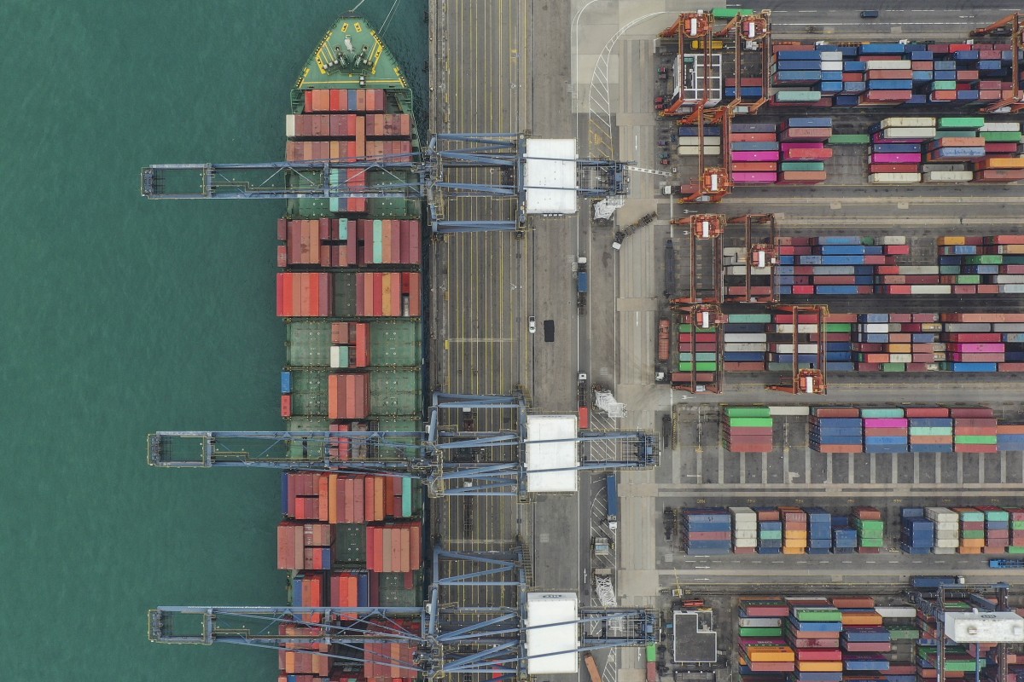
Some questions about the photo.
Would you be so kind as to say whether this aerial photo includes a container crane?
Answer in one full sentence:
Yes, there is a container crane in the image.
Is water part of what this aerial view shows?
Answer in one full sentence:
Yes, water shows up in the scene.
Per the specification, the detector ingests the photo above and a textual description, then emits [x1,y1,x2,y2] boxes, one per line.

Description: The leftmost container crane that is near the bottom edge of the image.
[146,533,660,679]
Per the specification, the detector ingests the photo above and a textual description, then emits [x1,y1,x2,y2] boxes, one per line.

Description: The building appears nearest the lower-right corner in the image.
[671,608,717,665]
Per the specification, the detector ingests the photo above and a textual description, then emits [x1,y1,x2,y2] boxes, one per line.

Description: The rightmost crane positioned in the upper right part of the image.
[969,8,1024,113]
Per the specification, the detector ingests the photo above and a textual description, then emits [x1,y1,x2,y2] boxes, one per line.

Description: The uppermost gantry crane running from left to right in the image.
[139,131,629,252]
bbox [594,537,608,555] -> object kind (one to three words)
vehicle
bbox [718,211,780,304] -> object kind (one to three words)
container crane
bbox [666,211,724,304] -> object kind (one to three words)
container crane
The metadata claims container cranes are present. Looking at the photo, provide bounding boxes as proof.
[146,385,660,498]
[146,533,660,679]
[969,8,1024,113]
[655,6,713,115]
[907,584,1024,682]
[139,131,629,252]
[762,303,827,398]
[666,211,724,304]
[710,8,772,113]
[718,211,780,304]
[666,302,724,392]
[674,104,733,204]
